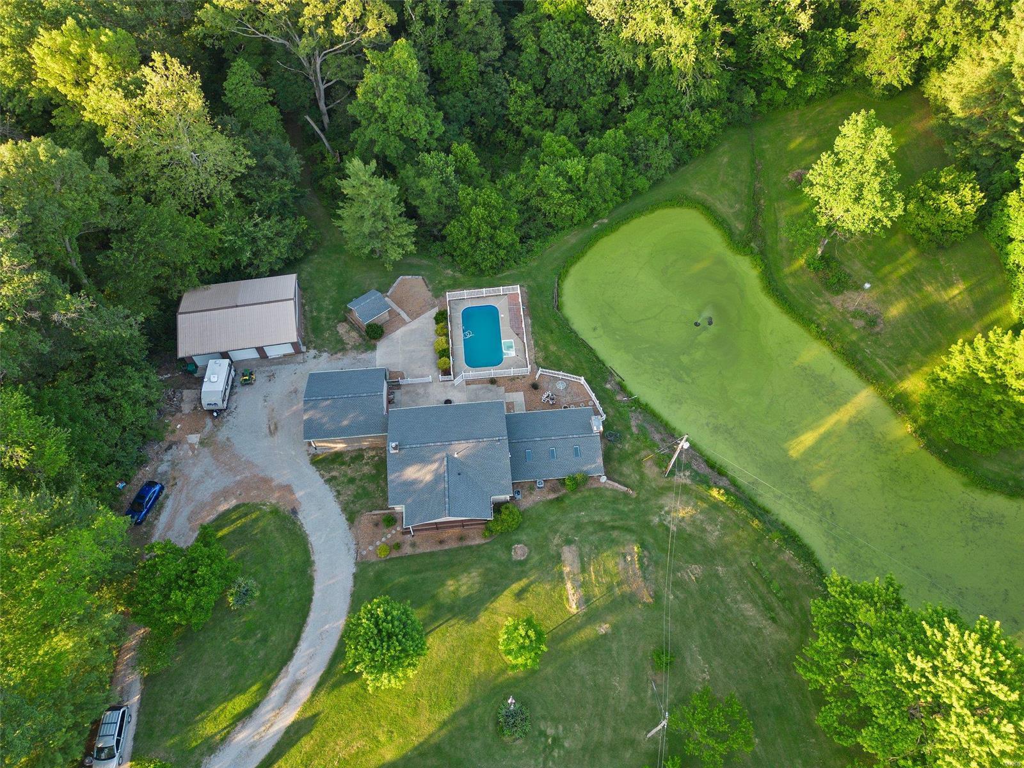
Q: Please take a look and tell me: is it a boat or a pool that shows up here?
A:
pool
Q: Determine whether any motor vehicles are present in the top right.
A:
No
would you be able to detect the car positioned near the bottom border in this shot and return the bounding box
[92,710,138,768]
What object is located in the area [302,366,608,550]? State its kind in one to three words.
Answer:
house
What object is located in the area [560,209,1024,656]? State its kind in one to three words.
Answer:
pond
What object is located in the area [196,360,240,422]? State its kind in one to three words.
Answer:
trailer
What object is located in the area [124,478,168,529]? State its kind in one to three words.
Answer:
car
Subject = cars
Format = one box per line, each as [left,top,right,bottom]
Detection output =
[92,710,138,768]
[124,478,168,529]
